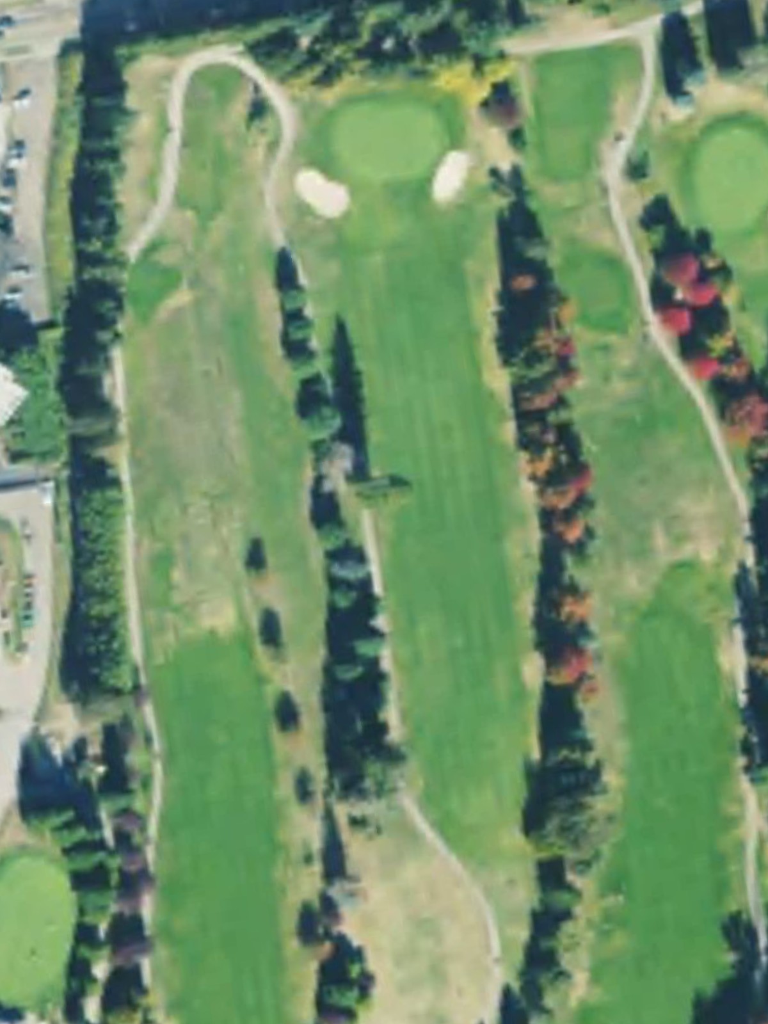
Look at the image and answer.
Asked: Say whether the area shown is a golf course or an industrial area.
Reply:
golf course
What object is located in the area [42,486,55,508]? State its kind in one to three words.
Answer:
vehicle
